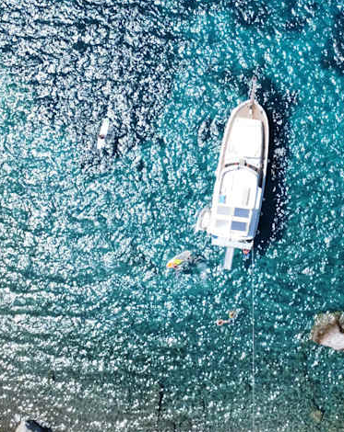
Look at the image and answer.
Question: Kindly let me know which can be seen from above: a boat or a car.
boat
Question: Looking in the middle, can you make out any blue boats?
No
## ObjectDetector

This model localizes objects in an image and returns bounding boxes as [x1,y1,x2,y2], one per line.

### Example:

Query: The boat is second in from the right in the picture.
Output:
[194,205,211,238]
